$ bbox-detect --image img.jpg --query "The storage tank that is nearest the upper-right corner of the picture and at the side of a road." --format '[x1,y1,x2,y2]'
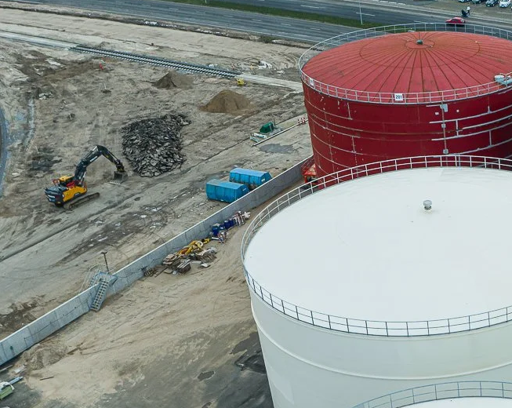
[299,23,512,188]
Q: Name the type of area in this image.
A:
industrial area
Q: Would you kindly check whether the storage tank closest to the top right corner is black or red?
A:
red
